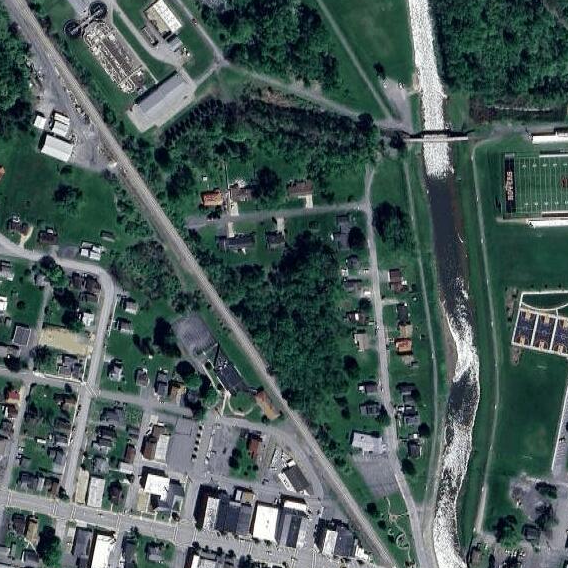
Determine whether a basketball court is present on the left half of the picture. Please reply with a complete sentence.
No, looking on the left half of the picture, there is no basketball court.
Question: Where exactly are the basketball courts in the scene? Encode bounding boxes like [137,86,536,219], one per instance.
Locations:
[551,319,568,353]
[533,314,555,348]
[514,310,537,345]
